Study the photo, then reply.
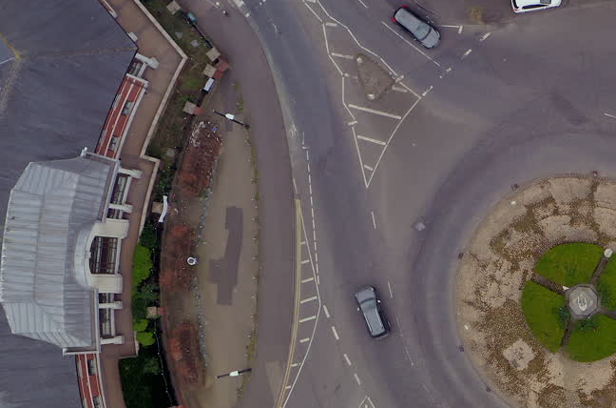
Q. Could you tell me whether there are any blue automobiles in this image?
No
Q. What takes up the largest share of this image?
paved ground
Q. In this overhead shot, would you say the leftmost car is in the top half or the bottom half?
bottom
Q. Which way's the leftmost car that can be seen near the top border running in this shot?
diagonally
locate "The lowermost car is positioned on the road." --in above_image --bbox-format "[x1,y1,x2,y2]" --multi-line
[356,285,388,339]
